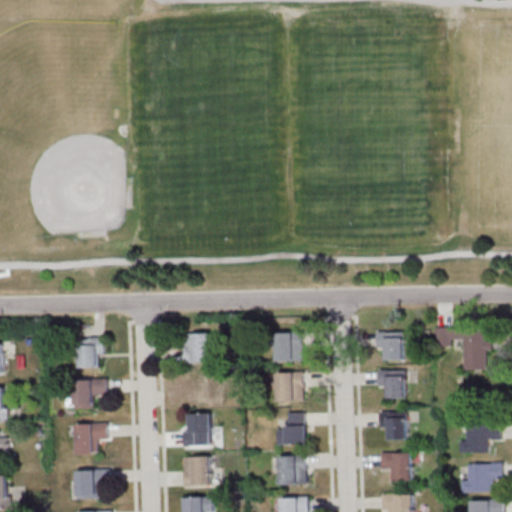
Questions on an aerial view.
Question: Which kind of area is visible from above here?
sports ground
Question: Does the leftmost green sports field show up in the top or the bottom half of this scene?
top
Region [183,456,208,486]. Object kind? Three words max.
house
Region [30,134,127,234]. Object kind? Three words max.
baseball field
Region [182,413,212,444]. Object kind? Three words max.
house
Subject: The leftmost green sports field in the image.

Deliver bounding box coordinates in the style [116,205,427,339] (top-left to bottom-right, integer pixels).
[132,14,292,250]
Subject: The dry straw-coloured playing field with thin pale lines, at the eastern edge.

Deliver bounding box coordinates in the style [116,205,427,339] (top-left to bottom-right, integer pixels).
[459,23,512,232]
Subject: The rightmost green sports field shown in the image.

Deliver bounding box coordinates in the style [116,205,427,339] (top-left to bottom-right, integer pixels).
[294,13,446,248]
